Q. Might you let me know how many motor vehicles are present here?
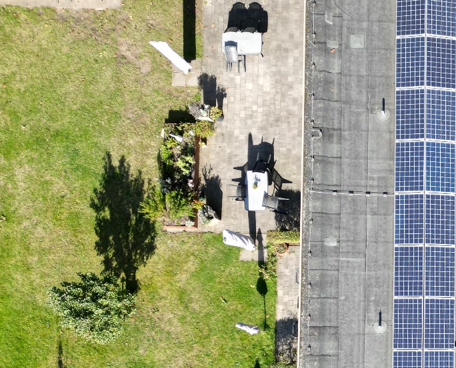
0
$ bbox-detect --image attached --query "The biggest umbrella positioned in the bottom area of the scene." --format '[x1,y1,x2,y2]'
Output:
[220,228,257,255]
